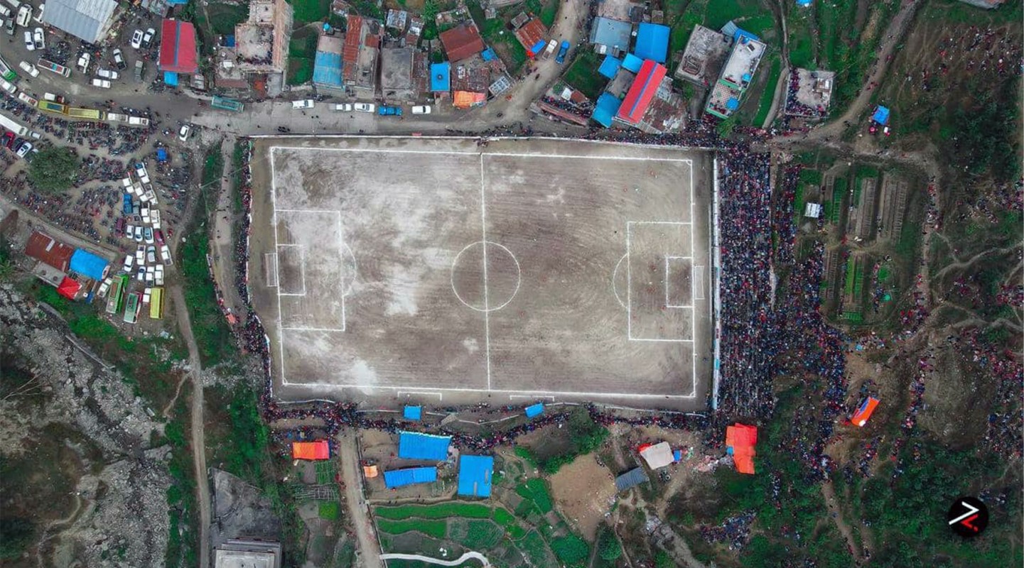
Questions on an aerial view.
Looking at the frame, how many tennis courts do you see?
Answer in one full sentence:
There are no tennis courts in this view.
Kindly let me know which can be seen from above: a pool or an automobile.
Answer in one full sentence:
It is an automobile that can be seen here.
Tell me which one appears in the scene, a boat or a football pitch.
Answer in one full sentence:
Of the two, only a football pitch appears.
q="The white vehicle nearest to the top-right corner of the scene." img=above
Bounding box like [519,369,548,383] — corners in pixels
[542,38,558,61]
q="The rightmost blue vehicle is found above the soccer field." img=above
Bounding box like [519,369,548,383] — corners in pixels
[555,40,569,65]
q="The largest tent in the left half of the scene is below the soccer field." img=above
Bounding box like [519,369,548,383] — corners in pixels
[292,438,332,459]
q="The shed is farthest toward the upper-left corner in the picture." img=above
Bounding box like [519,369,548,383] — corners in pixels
[42,0,124,45]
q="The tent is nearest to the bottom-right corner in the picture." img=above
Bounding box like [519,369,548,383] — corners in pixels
[846,395,879,427]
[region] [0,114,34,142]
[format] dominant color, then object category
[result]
white bus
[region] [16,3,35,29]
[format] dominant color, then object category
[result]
white car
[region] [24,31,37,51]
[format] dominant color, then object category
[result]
white vehicle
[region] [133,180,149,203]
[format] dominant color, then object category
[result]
white vehicle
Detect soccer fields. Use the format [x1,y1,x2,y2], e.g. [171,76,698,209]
[249,138,712,412]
